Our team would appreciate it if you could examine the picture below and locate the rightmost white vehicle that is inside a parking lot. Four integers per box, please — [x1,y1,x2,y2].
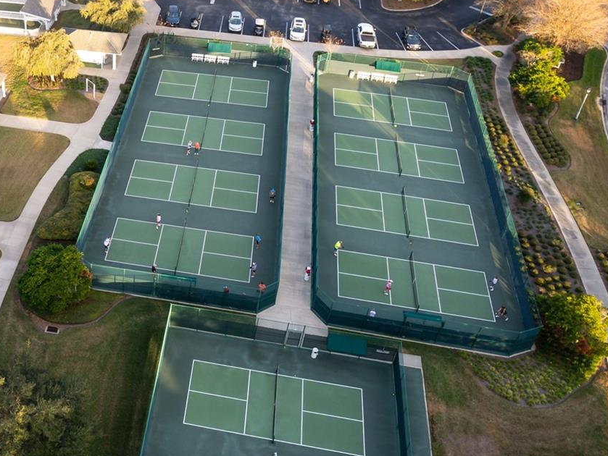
[357,23,375,46]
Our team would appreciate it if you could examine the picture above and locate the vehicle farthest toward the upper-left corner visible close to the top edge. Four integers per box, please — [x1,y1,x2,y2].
[165,5,182,25]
